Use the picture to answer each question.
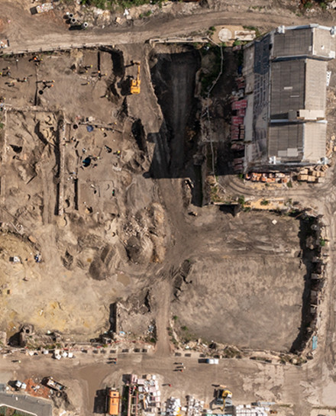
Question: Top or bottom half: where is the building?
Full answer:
Seen from above, the building lies in the top half of the view.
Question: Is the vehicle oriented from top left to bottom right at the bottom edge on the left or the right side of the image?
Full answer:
The vehicle oriented from top left to bottom right at the bottom edge sits on the left side.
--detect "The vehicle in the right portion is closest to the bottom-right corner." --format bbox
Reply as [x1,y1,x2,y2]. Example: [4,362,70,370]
[213,387,231,414]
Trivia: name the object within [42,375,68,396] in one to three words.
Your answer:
vehicle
